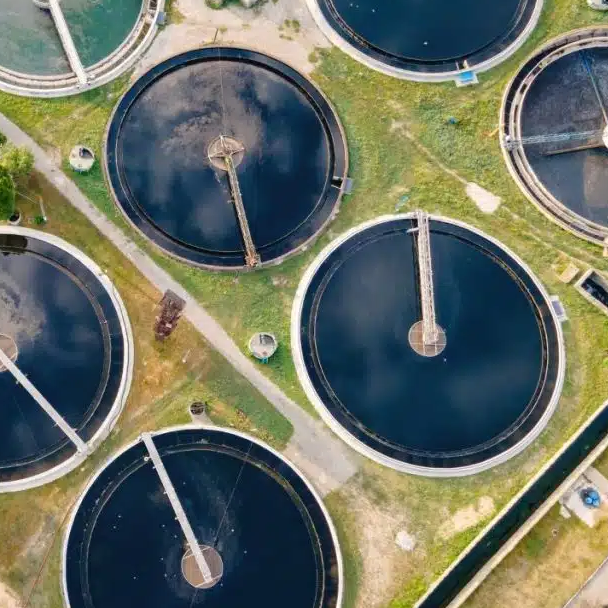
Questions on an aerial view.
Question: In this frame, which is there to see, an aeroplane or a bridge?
bridge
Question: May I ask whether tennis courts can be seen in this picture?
No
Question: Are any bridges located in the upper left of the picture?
Yes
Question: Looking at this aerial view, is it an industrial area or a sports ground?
industrial area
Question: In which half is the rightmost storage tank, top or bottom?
top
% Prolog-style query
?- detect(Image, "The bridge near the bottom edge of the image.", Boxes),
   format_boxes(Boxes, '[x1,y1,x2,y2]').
[136,431,213,582]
